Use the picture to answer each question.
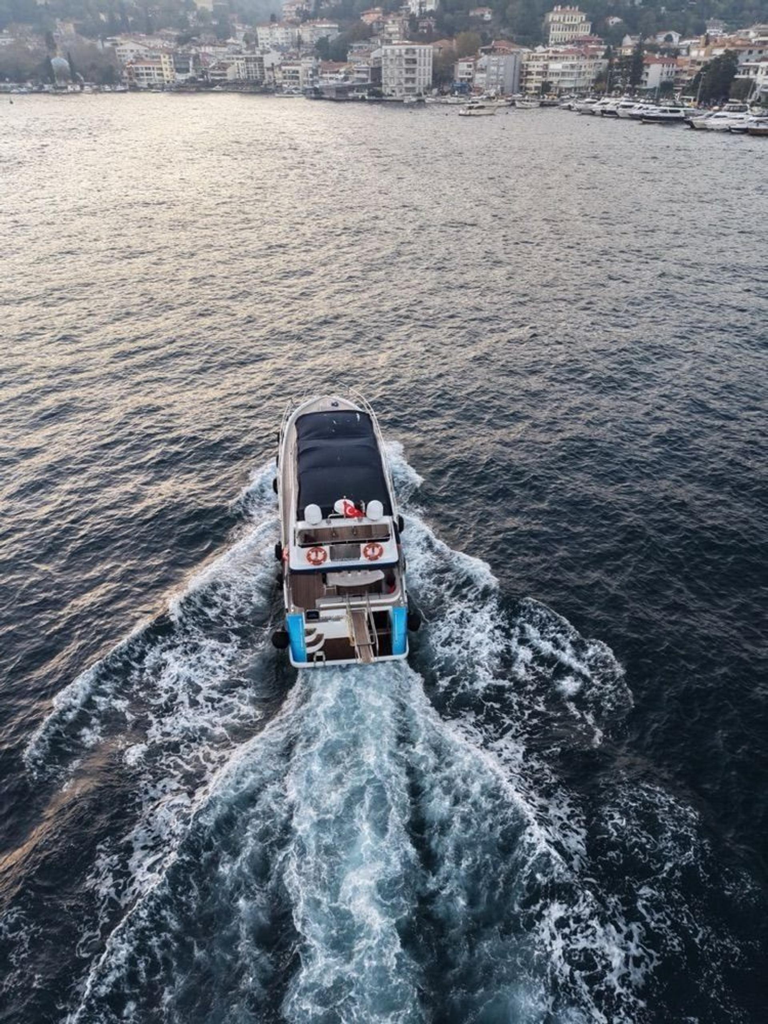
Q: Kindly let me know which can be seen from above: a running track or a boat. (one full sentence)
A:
It is a boat that can be seen here.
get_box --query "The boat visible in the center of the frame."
[276,384,411,671]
